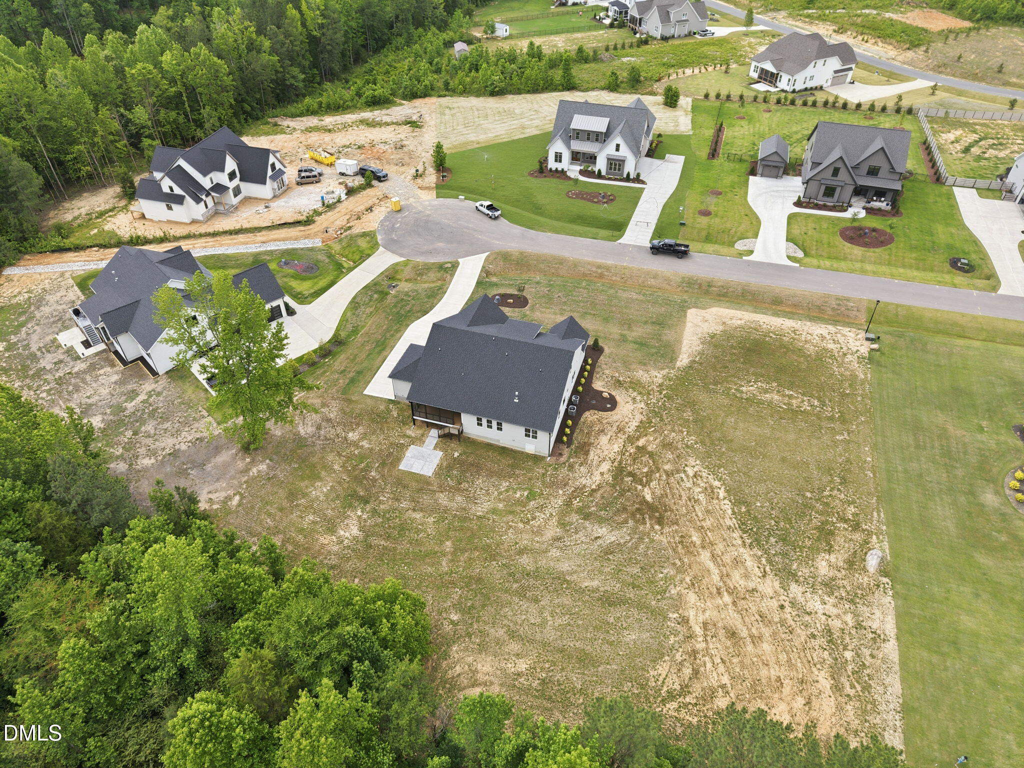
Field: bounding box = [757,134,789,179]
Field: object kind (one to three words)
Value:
building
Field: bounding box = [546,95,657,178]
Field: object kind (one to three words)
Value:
house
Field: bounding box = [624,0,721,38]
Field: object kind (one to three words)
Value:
house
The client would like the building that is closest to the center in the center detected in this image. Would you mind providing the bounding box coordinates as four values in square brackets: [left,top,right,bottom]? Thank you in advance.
[388,292,590,457]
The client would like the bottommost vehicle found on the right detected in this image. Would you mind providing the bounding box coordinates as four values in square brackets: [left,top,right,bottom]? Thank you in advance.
[648,239,693,260]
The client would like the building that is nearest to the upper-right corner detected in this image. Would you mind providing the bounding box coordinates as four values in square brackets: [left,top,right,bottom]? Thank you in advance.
[987,141,1024,202]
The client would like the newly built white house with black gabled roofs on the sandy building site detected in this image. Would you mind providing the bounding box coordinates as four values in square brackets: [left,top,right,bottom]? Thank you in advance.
[128,126,292,223]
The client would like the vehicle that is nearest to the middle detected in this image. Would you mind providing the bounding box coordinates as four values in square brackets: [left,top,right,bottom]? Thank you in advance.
[471,201,504,219]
